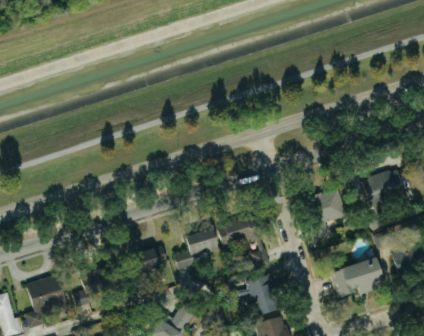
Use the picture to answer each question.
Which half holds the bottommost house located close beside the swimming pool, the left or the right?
right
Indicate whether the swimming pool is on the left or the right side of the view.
right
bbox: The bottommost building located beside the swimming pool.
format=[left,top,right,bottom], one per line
[328,258,384,298]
